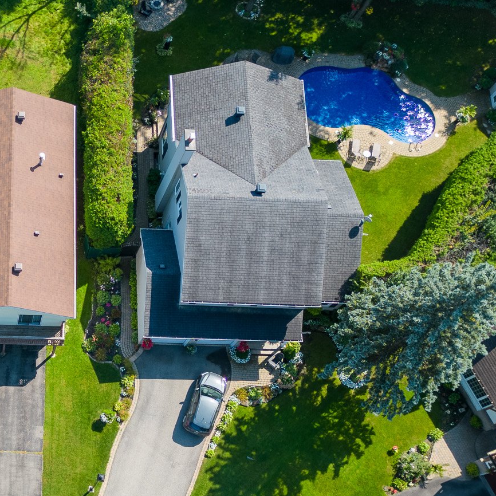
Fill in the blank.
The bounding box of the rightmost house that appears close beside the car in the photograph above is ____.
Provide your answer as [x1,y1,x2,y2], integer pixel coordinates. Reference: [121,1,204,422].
[139,61,362,352]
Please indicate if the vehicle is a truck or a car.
car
